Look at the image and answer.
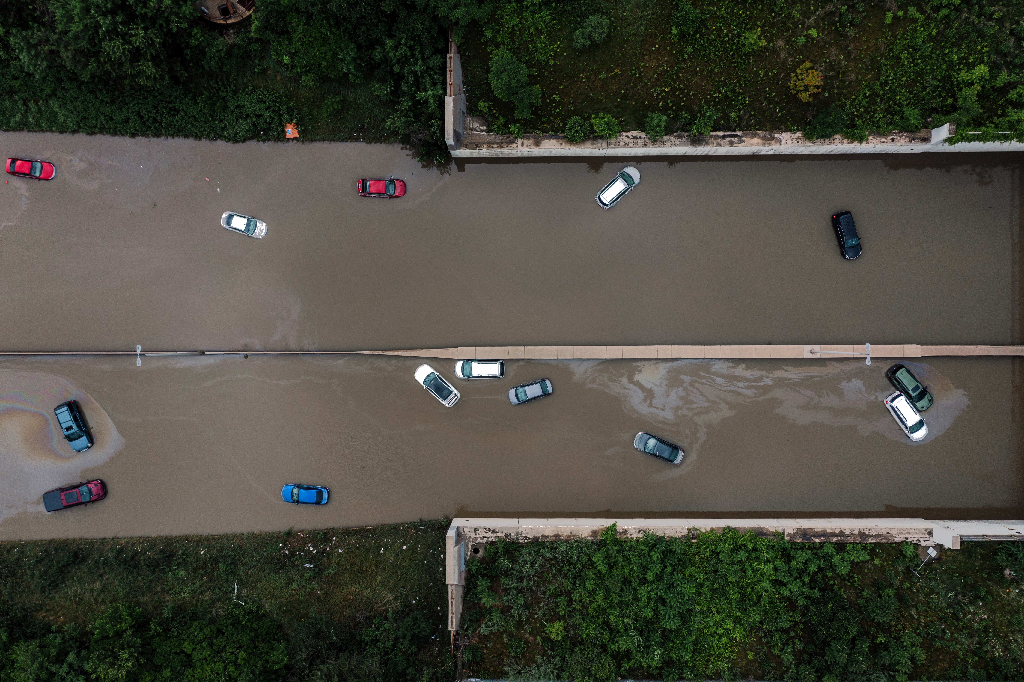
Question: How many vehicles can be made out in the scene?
14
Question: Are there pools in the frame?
No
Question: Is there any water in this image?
Yes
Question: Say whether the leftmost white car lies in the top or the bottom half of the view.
top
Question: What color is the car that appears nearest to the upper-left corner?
red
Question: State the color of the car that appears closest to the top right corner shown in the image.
black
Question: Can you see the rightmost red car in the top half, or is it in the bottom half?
top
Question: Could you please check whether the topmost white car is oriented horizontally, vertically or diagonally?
diagonally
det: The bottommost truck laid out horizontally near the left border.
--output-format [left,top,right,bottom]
[43,480,109,512]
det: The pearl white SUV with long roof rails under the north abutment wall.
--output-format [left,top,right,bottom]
[595,166,640,210]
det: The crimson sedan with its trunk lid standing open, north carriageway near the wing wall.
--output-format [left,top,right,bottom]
[353,176,406,199]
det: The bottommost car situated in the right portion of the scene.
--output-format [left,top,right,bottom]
[633,431,684,465]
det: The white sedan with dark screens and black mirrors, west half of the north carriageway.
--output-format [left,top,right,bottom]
[222,211,269,239]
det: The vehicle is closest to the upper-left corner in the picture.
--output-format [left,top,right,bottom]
[7,157,58,181]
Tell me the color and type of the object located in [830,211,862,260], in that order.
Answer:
black car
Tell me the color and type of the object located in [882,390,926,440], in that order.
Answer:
white car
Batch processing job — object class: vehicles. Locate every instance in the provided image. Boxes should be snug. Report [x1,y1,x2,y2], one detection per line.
[508,378,553,405]
[455,359,504,382]
[595,166,640,210]
[222,211,269,239]
[43,480,109,512]
[415,363,462,409]
[283,483,330,507]
[882,390,926,440]
[633,431,684,465]
[353,176,406,199]
[885,363,929,410]
[7,157,58,181]
[54,401,94,451]
[830,211,862,260]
